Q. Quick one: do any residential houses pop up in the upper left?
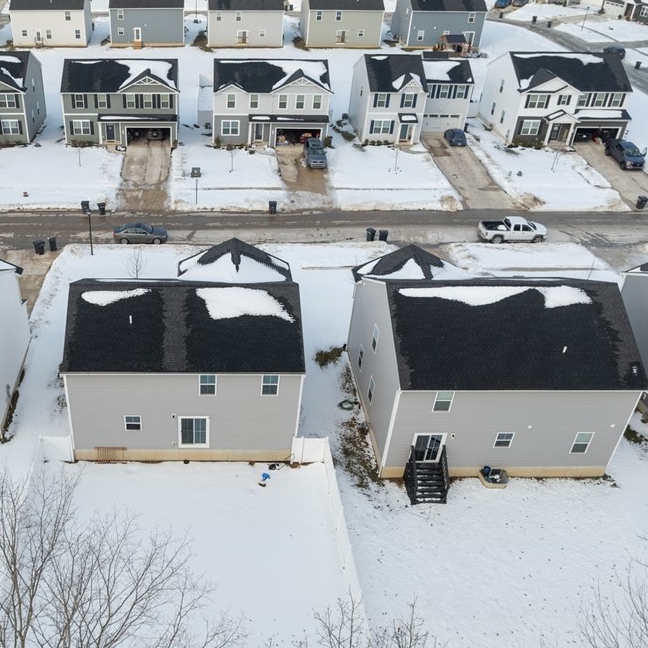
Yes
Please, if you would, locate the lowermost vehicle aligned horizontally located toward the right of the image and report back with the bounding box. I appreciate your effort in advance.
[471,212,547,241]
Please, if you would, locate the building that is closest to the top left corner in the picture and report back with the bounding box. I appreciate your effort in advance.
[8,0,92,48]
